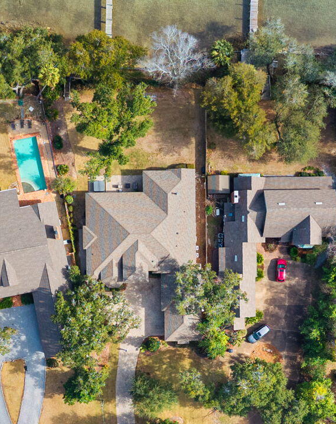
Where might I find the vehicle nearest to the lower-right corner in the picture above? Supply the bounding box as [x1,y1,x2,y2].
[247,324,271,344]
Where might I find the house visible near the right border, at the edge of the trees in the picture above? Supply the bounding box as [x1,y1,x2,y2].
[218,173,336,330]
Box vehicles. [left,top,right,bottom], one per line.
[275,259,286,283]
[247,324,271,344]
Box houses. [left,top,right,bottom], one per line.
[83,169,205,344]
[0,188,76,356]
[218,173,336,330]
